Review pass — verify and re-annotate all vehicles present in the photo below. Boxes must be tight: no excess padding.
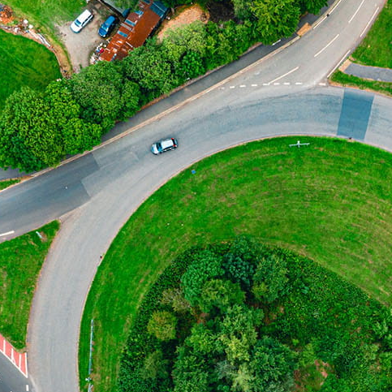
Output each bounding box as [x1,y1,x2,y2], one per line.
[98,13,117,38]
[151,137,179,154]
[72,8,93,32]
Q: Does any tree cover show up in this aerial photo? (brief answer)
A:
Yes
